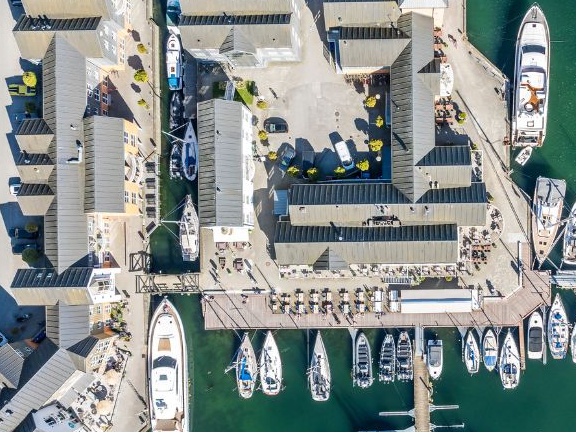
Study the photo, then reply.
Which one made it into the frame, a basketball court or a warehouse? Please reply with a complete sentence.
There is a warehouse in the scene.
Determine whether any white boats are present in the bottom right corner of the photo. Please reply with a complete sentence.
Yes, the scene does show a white boat in the bottom right corner of the photo.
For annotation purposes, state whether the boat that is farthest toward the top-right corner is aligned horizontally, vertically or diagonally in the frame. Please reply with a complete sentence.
The boat that is farthest toward the top-right corner is oriented vertically.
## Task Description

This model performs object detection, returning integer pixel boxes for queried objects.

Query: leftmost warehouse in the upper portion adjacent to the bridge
[15,28,147,285]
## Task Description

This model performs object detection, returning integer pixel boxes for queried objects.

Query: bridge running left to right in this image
[131,274,203,294]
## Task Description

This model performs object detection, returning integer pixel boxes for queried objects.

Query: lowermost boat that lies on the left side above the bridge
[165,194,199,262]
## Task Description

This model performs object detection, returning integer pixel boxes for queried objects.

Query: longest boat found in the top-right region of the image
[513,1,552,151]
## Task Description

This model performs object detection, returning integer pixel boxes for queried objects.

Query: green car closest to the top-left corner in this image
[9,83,39,98]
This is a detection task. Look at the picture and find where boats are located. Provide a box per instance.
[166,0,183,30]
[396,332,413,381]
[525,315,544,359]
[255,329,283,396]
[378,335,396,382]
[166,32,183,92]
[531,176,567,269]
[498,330,522,389]
[147,298,191,432]
[546,288,576,360]
[482,330,498,370]
[165,194,199,262]
[463,330,480,373]
[514,146,534,164]
[426,339,444,380]
[513,1,552,151]
[306,330,331,400]
[169,145,184,180]
[354,333,373,388]
[227,329,258,399]
[172,120,197,182]
[563,204,576,270]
